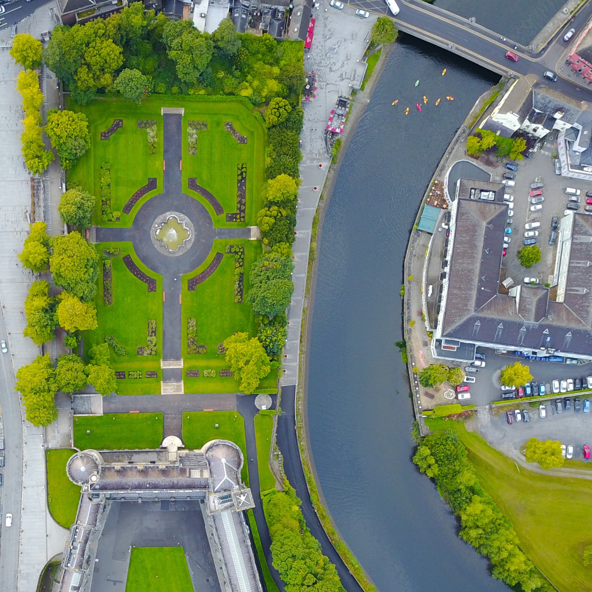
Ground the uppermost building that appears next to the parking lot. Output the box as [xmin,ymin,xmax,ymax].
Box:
[432,160,592,362]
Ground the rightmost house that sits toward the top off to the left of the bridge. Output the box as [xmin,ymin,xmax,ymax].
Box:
[287,0,318,50]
